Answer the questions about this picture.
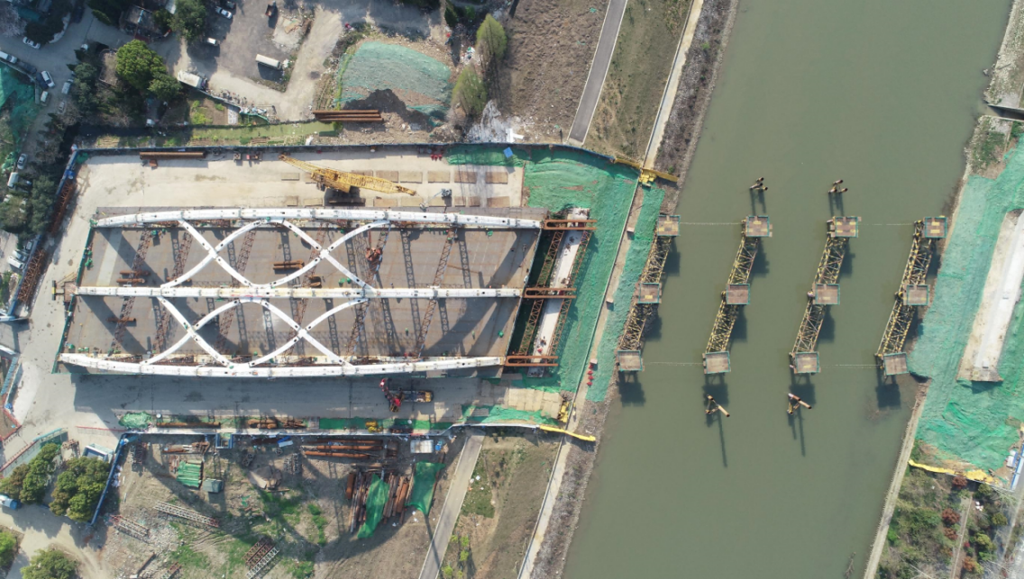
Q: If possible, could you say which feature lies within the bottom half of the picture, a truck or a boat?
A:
truck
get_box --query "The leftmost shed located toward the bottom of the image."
[81,442,114,463]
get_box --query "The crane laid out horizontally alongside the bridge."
[277,154,415,197]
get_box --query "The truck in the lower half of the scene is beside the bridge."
[380,377,430,416]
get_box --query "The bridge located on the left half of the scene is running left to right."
[50,208,553,376]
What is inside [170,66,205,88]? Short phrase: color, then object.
white truck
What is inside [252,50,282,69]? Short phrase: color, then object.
white vehicle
